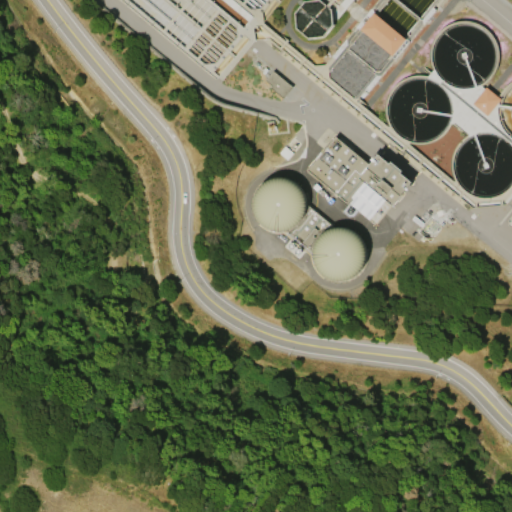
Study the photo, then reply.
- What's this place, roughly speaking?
industrial area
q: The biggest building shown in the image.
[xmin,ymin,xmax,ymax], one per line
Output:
[308,136,411,225]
